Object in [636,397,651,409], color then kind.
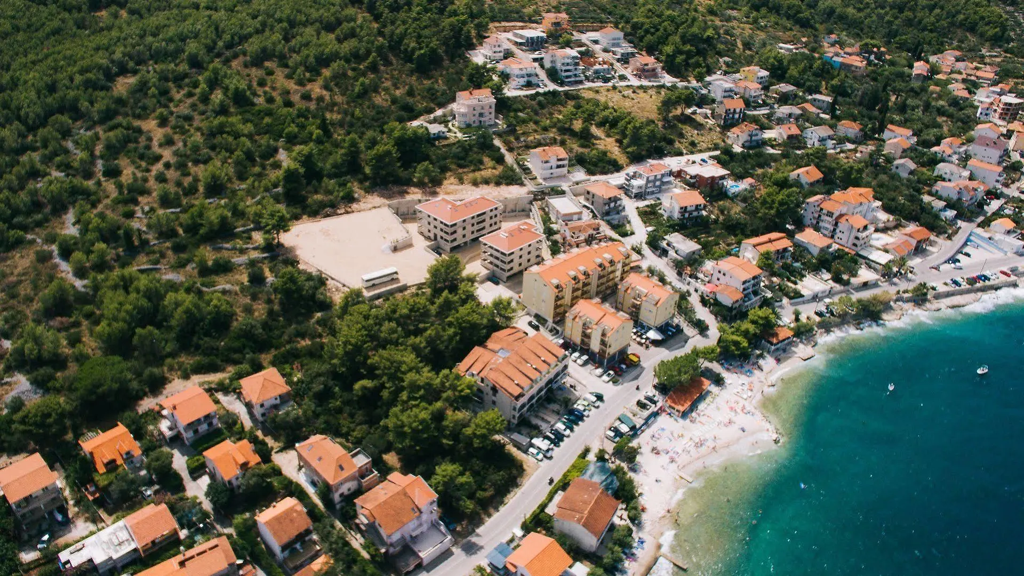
gray vehicle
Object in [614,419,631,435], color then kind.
white vehicle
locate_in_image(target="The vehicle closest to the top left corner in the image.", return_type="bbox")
[360,269,398,287]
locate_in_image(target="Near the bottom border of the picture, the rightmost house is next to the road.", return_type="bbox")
[554,478,623,554]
